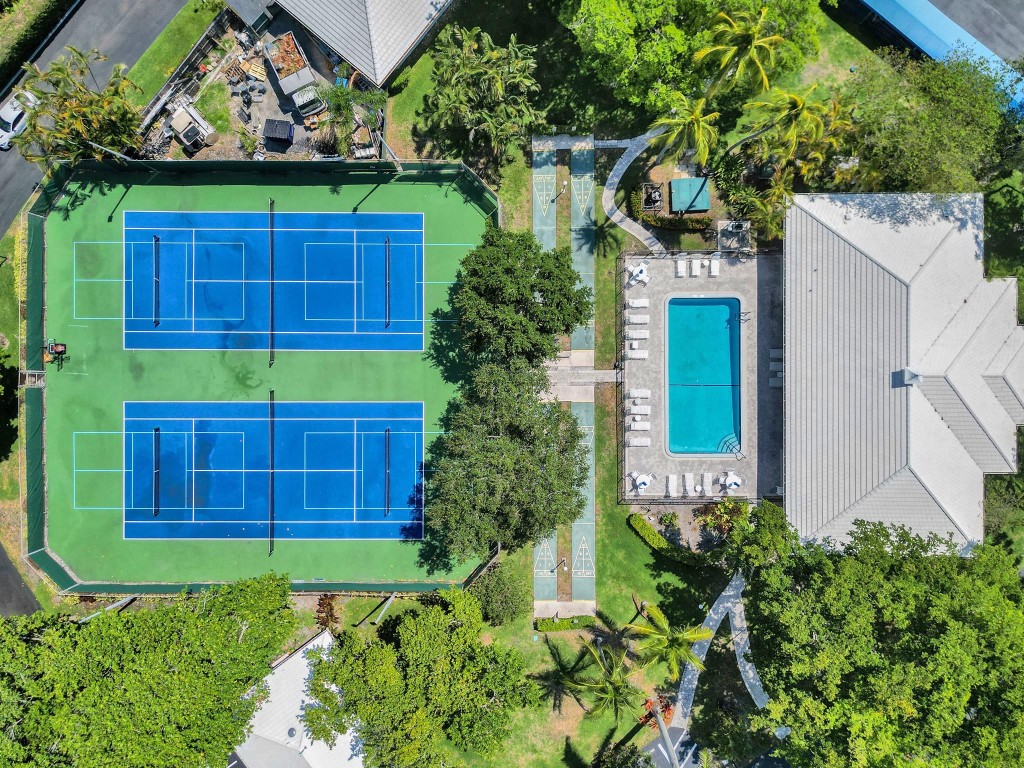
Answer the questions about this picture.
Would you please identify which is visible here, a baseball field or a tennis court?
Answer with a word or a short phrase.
tennis court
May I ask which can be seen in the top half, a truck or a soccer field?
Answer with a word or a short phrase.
truck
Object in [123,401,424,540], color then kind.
blue tennis court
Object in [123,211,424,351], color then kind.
blue tennis court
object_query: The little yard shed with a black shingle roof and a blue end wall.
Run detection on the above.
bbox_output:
[262,117,298,149]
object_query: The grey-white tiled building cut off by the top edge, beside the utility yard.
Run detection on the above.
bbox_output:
[276,0,461,90]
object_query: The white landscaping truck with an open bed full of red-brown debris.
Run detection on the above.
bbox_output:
[263,32,330,121]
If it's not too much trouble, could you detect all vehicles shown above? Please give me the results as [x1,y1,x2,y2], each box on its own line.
[166,101,219,154]
[0,91,49,152]
[263,32,330,121]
